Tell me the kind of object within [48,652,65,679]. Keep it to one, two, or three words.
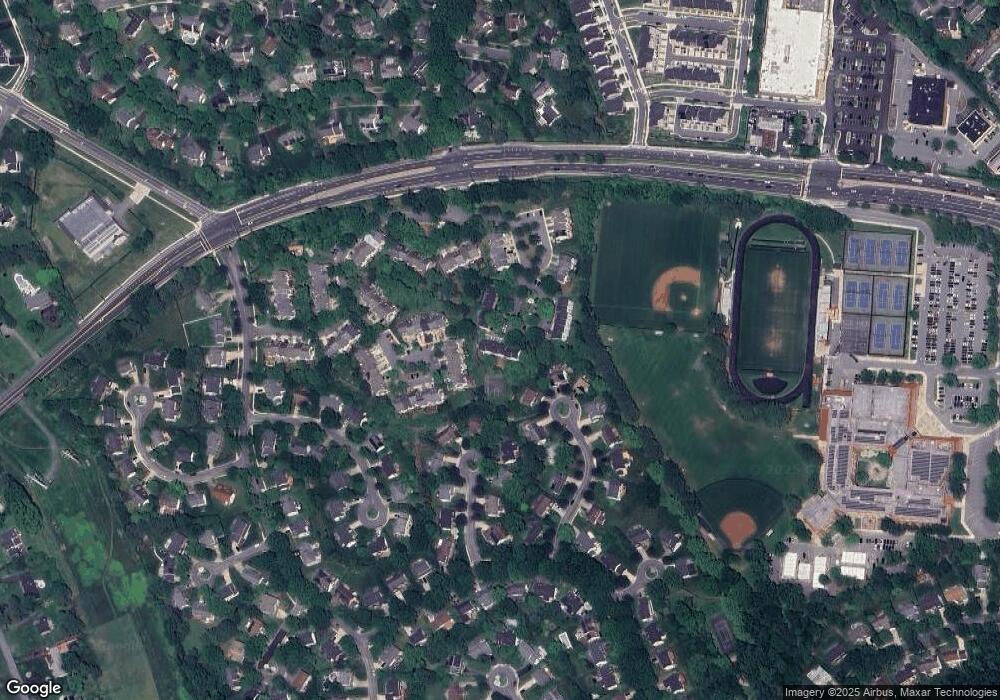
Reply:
house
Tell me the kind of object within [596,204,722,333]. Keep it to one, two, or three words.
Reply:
baseball field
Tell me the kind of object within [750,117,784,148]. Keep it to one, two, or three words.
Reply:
building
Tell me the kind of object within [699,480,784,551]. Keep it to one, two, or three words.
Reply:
baseball field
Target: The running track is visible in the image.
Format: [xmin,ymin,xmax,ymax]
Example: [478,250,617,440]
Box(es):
[730,215,819,404]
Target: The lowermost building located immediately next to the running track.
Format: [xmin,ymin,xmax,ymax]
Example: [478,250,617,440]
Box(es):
[802,382,964,533]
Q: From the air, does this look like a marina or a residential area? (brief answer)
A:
residential area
